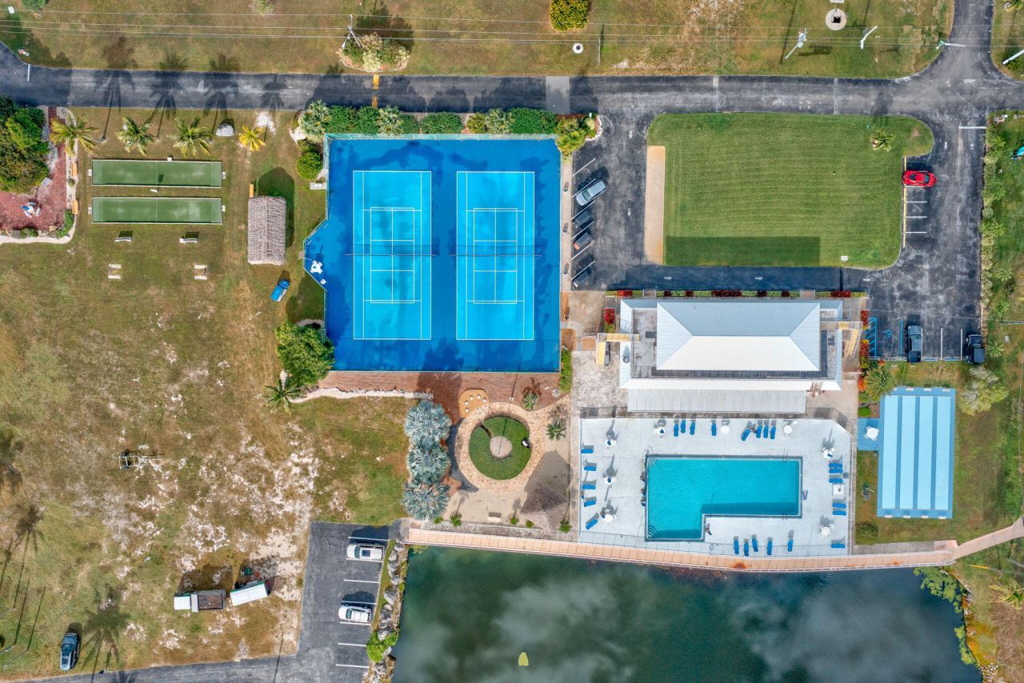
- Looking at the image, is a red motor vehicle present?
Yes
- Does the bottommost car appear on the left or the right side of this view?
left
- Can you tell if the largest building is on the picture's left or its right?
right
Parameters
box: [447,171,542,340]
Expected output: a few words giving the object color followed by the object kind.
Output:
blue tennis court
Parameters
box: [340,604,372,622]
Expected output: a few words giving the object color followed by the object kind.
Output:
white car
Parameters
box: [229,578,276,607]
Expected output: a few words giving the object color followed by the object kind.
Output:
white trailer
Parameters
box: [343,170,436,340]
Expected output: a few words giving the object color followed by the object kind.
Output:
blue tennis court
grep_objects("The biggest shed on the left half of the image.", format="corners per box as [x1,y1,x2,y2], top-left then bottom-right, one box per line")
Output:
[244,195,294,267]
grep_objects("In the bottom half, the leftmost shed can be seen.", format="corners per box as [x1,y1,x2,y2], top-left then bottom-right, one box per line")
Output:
[519,480,569,532]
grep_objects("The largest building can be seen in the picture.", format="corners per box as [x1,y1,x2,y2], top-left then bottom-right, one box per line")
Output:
[619,300,842,414]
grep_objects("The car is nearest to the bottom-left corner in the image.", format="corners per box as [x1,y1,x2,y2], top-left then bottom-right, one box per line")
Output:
[59,633,81,669]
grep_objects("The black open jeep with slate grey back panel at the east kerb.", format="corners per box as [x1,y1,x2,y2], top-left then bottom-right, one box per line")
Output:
[963,333,985,365]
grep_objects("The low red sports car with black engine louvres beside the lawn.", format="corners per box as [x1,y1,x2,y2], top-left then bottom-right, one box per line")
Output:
[902,169,937,186]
